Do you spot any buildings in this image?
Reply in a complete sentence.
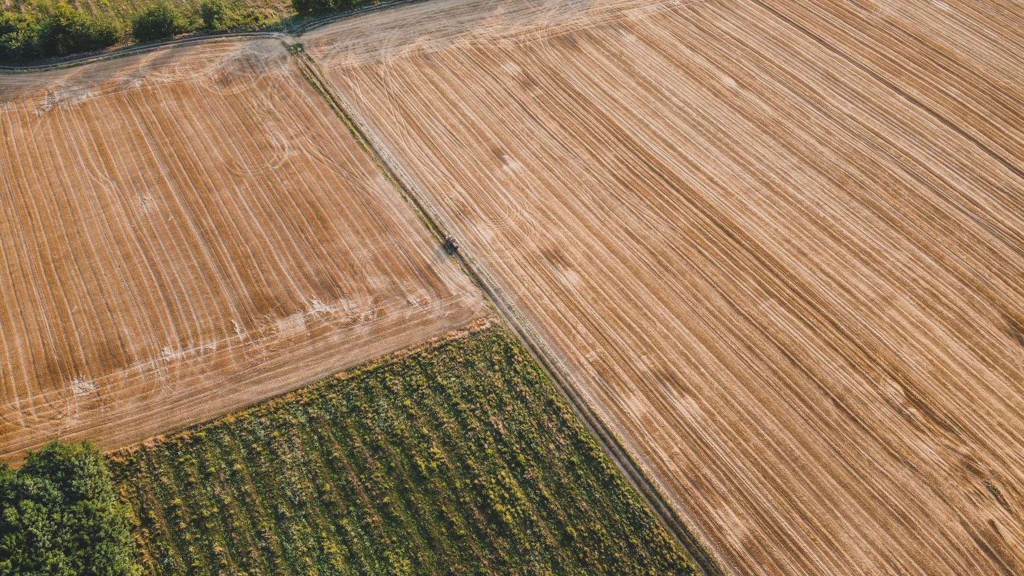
No, I find no building anywhere in the image.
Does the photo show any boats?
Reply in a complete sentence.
No, the photo shows no boat.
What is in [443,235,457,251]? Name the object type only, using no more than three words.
work vehicle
